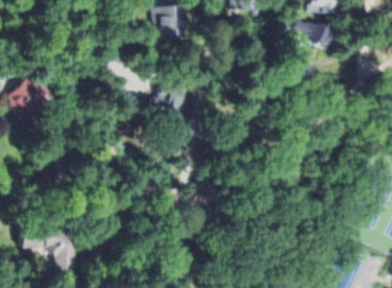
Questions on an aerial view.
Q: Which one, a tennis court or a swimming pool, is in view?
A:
tennis court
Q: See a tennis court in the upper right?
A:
No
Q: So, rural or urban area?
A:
rural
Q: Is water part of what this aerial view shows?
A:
No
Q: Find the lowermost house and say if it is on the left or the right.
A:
left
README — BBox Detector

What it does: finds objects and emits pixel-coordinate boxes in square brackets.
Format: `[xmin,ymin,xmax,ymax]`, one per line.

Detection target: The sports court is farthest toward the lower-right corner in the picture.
[352,256,387,288]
